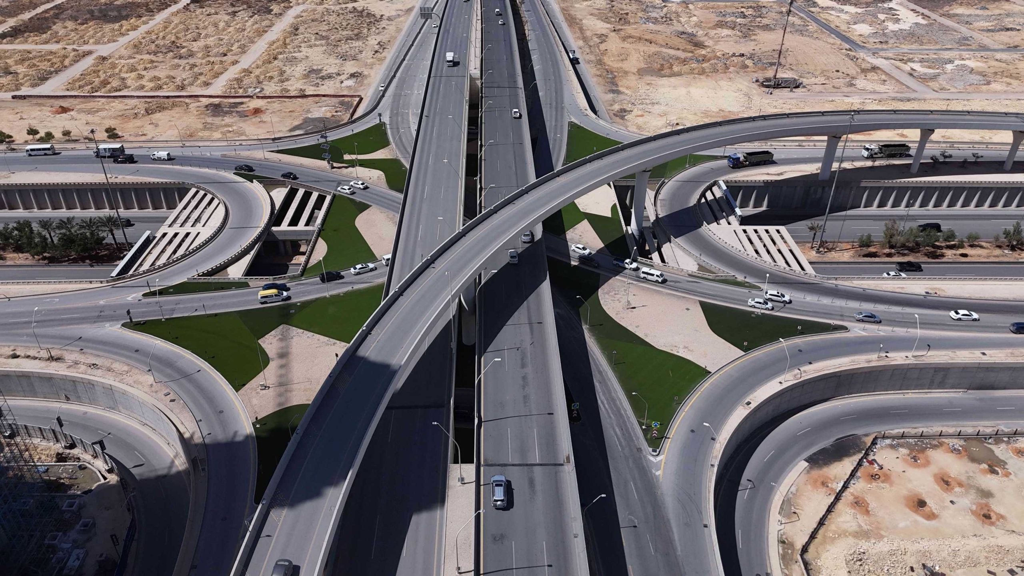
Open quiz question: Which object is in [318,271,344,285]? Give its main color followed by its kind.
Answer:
black car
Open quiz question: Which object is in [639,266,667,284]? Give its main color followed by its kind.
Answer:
white vehicle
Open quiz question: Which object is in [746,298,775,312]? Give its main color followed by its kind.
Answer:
white car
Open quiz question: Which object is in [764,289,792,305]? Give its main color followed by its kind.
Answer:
white car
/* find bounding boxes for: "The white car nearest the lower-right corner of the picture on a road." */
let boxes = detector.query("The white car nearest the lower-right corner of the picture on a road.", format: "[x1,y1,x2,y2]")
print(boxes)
[948,309,981,322]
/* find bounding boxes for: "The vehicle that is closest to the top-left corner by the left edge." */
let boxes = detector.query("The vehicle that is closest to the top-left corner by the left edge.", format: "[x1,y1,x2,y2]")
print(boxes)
[25,144,57,157]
